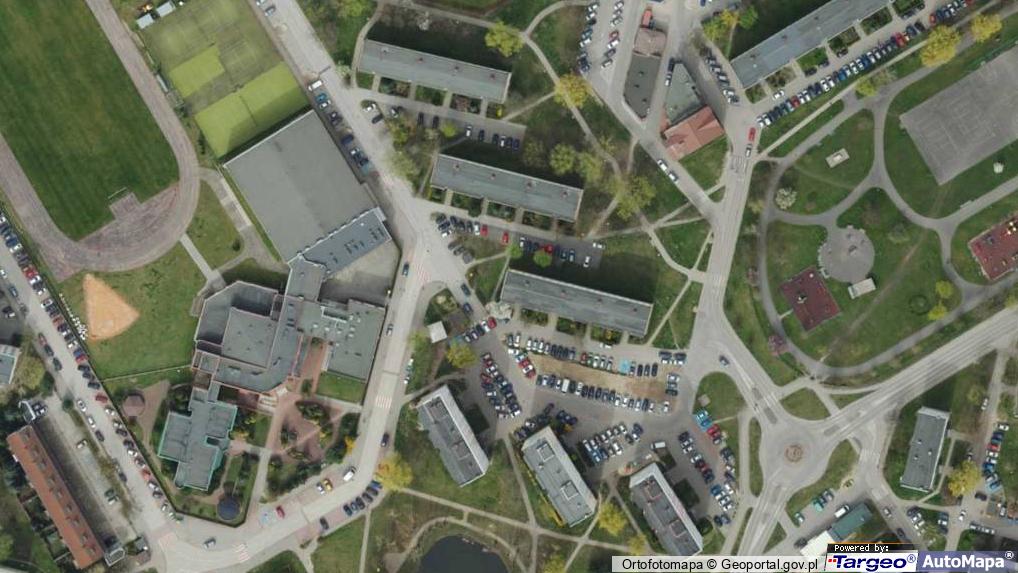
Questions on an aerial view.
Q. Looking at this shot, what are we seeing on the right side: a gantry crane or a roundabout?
roundabout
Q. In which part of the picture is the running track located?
top left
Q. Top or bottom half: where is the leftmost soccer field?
top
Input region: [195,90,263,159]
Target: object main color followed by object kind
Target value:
green tennis court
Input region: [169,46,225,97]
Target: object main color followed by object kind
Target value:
green tennis court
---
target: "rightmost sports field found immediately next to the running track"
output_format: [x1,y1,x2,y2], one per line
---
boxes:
[138,0,311,158]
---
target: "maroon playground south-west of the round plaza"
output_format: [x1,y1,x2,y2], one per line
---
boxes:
[780,265,840,332]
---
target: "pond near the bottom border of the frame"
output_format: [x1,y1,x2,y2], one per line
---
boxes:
[419,535,507,573]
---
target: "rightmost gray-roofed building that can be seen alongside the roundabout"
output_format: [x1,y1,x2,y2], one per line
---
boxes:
[900,404,951,492]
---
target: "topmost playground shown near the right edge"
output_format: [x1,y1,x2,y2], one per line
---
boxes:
[967,213,1018,282]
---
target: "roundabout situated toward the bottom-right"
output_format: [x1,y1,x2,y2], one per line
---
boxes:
[743,370,900,530]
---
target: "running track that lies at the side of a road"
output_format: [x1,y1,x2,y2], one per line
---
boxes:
[0,0,200,283]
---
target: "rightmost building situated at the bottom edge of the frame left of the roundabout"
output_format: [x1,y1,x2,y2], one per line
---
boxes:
[631,457,703,562]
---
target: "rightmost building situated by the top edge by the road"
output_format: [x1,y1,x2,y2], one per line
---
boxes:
[731,0,895,91]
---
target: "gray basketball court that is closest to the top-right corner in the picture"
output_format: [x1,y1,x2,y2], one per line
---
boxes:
[900,46,1018,185]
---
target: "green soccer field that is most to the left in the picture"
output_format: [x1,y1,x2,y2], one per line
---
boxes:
[0,0,180,241]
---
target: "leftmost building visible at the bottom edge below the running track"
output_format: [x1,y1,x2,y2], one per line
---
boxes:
[5,424,109,570]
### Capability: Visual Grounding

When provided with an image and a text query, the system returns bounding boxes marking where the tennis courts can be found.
[241,62,310,130]
[195,90,263,159]
[169,46,225,97]
[219,20,281,84]
[146,3,216,70]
